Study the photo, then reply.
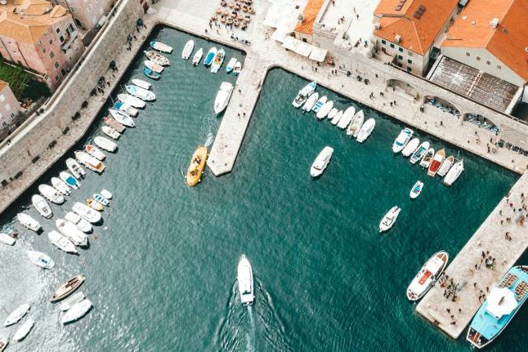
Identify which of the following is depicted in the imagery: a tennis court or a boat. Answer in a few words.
boat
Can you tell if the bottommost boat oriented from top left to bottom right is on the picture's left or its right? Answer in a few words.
left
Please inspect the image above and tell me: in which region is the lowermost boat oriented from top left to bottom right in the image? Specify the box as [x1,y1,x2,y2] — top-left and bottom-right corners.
[25,248,54,268]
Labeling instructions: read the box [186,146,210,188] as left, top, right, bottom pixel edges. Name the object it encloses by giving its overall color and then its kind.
yellow boat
